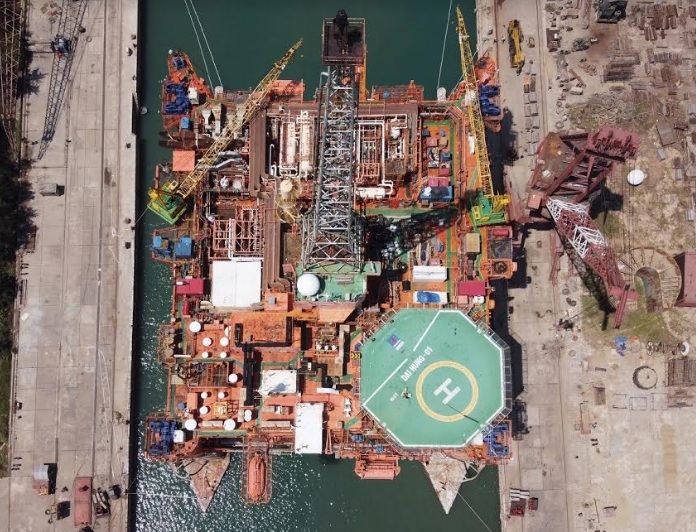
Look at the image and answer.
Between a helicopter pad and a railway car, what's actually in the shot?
helicopter pad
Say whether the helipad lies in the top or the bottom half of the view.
bottom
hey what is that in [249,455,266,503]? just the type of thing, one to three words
boat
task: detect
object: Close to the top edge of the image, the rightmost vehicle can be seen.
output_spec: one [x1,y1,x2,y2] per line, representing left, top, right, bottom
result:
[597,1,625,24]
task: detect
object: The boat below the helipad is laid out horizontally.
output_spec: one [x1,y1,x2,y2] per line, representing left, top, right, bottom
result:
[357,464,401,480]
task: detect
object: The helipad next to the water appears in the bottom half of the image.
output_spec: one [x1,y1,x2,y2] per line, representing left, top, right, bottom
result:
[350,304,513,454]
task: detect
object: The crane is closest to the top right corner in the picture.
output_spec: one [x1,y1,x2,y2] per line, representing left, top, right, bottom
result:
[504,16,525,74]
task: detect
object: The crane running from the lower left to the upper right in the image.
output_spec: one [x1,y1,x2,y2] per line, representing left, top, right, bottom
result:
[143,37,306,229]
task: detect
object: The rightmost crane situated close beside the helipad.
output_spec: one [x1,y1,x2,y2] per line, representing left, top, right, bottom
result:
[453,5,515,231]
